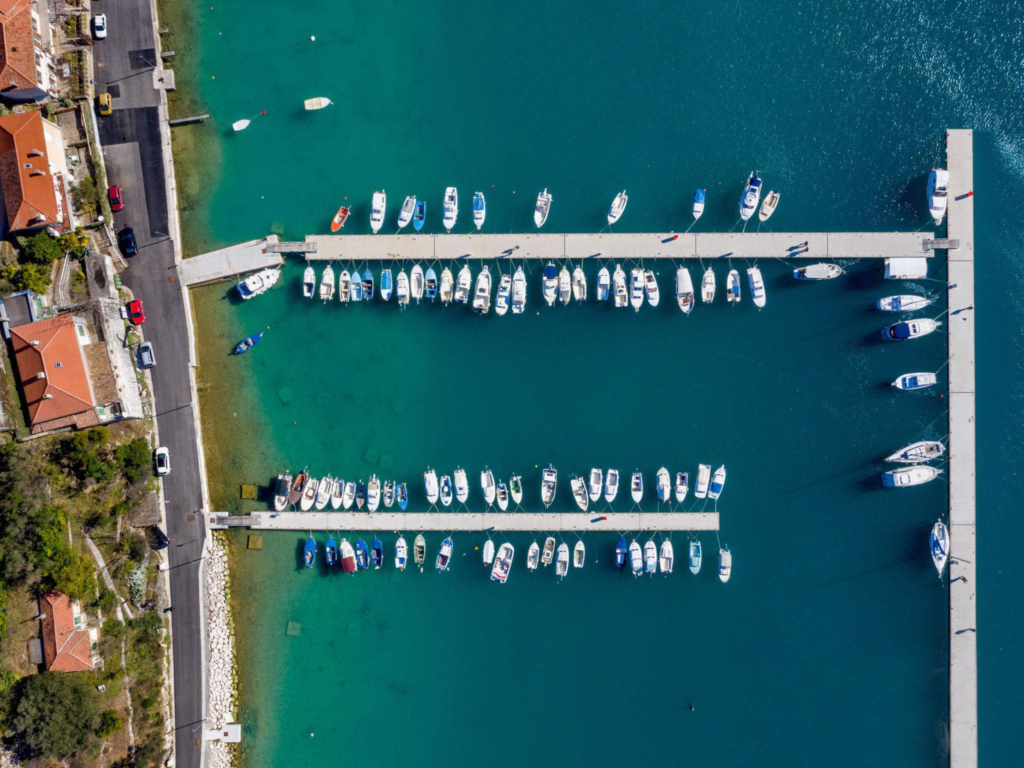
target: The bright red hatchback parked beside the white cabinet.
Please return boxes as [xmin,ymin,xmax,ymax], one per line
[125,297,144,324]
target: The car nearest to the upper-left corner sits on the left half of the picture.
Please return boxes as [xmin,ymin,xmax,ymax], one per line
[89,10,106,36]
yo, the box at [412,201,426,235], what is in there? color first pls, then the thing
blue boat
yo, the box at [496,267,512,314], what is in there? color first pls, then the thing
white boat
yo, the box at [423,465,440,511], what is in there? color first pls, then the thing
white boat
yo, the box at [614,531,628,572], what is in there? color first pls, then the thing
blue boat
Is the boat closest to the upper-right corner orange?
No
